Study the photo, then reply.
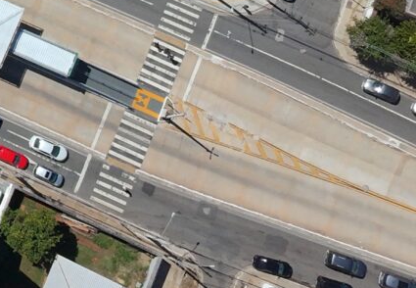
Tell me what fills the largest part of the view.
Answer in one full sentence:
For the most part, this view shows paved ground.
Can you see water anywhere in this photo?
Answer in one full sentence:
No, the scene doesn't show any water.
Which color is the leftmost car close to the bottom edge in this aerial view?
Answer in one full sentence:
From above, the leftmost car close to the bottom edge appears black.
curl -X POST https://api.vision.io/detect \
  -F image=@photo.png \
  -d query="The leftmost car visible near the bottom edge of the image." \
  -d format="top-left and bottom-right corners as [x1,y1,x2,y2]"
[249,252,294,283]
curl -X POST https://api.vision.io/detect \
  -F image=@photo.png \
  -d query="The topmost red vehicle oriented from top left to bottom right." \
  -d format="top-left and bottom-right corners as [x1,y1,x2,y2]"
[0,143,32,173]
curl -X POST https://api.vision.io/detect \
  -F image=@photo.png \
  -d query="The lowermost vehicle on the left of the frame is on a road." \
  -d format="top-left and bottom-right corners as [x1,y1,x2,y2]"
[31,162,67,191]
